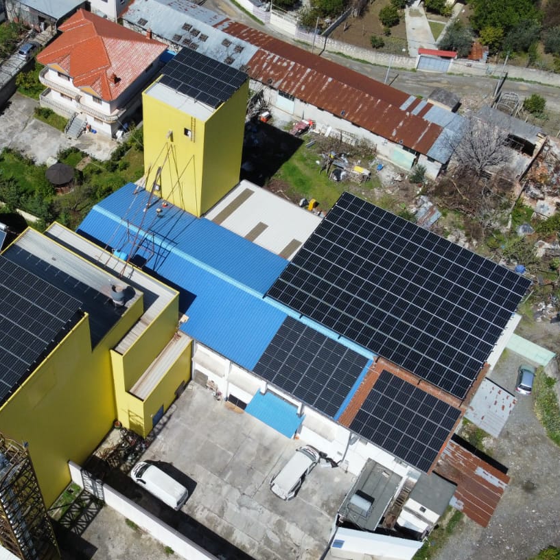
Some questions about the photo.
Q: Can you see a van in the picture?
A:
Yes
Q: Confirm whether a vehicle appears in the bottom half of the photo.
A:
Yes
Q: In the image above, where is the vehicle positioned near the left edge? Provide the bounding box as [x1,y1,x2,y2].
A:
[13,36,40,61]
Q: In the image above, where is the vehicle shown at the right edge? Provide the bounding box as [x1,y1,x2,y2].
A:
[512,362,541,400]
